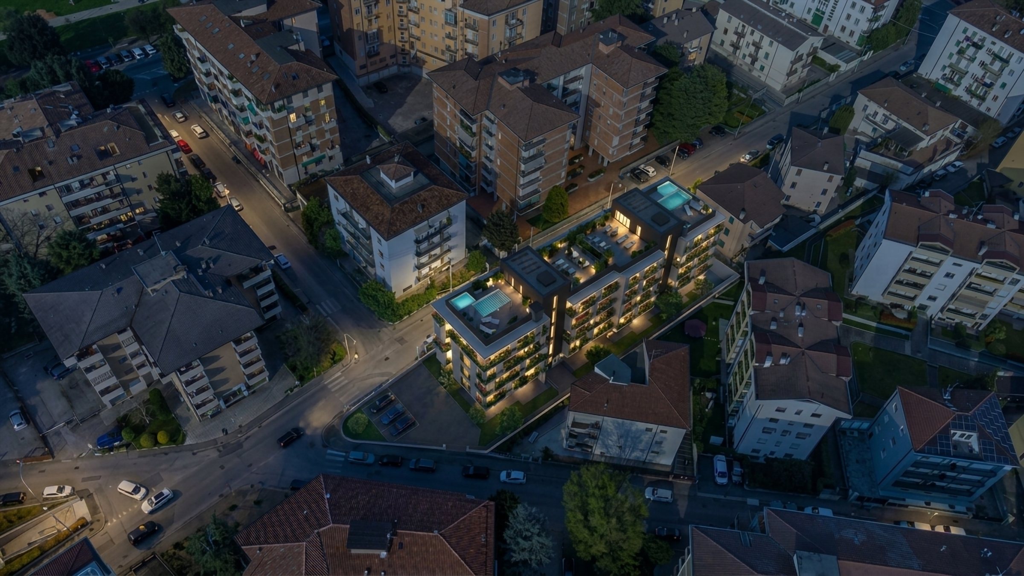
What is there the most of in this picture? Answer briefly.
buildings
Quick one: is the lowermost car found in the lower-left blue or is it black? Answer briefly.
black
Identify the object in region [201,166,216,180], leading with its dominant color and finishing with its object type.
black car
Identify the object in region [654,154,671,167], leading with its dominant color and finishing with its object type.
black vehicle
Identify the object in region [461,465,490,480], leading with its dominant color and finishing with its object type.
black car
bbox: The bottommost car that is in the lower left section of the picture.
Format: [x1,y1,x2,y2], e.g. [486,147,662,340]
[126,519,160,545]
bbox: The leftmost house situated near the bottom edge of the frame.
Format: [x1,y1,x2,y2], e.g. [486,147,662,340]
[30,536,115,576]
